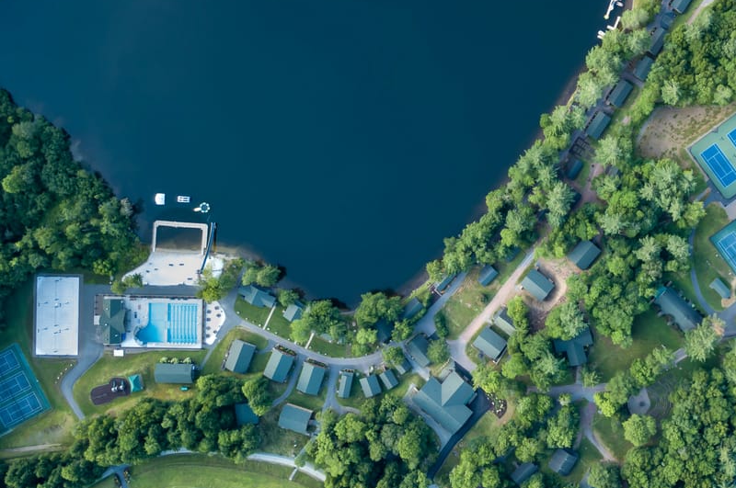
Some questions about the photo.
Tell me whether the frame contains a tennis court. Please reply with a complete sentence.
Yes, a tennis court can be made out from above.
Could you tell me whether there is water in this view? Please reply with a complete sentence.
Yes, the picture does contain water.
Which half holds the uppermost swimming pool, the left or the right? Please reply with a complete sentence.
You can find the uppermost swimming pool on the left side of the picture.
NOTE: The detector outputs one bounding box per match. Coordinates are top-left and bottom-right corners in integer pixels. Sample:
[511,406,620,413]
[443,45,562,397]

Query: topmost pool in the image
[102,296,203,349]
